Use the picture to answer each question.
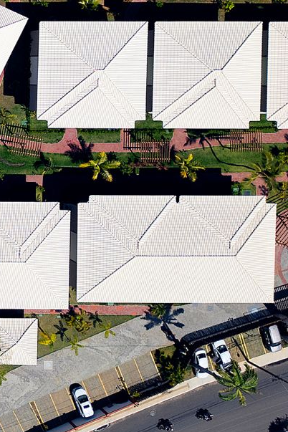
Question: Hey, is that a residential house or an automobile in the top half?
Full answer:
You can see a residential house in the top half.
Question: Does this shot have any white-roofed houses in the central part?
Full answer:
Yes, in the central part there is a white-roofed house.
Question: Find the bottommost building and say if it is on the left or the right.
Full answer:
You can find the bottommost building on the left side of the picture.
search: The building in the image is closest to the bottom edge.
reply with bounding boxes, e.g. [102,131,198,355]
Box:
[0,318,38,366]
